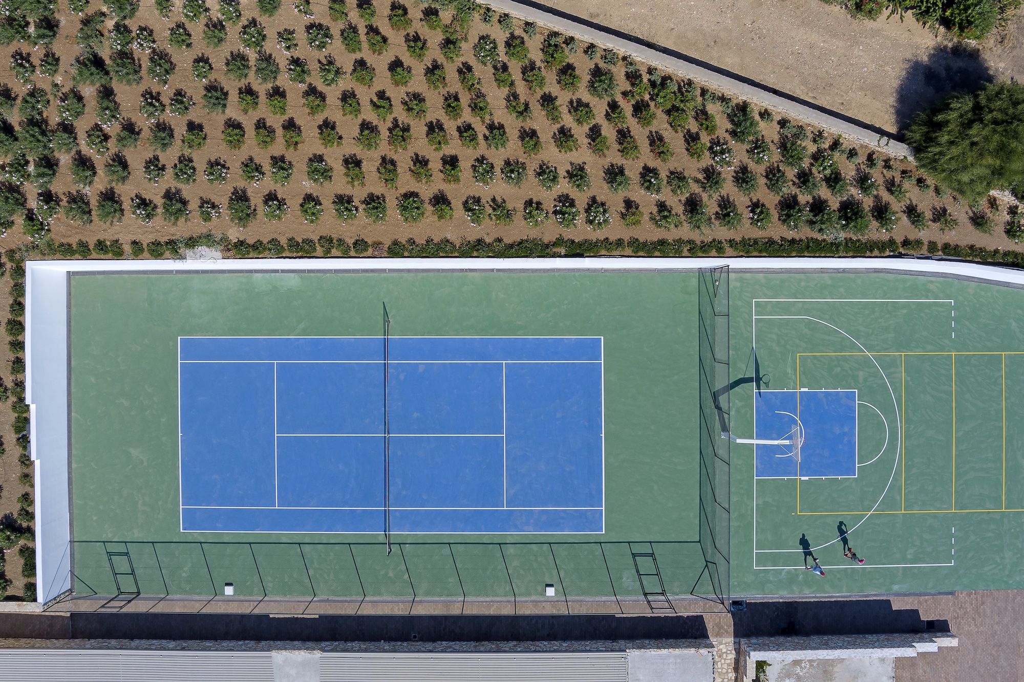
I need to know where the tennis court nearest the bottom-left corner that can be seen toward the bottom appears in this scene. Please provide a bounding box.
[70,273,715,597]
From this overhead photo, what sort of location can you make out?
sports ground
